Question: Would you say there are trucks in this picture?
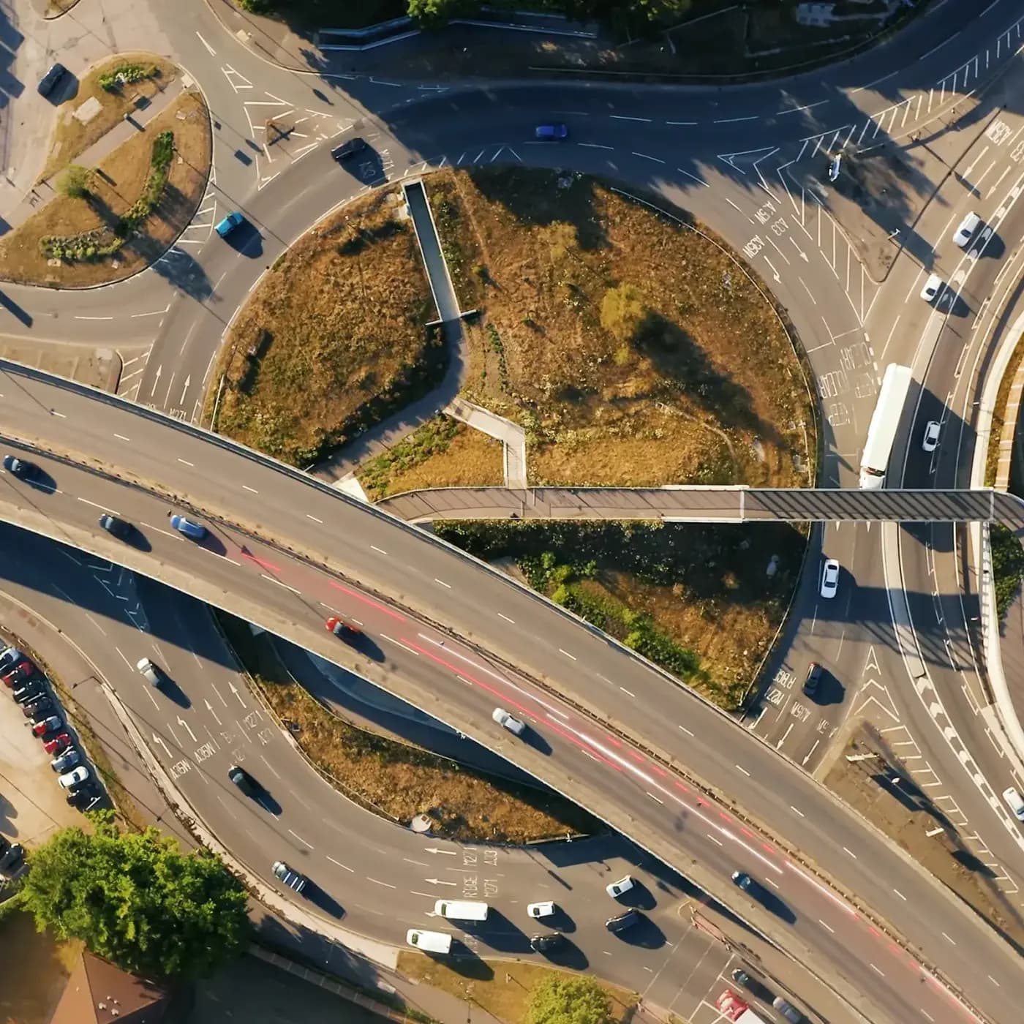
Yes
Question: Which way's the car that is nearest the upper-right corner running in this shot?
at an angle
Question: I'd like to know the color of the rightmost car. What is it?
white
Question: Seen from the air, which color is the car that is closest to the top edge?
black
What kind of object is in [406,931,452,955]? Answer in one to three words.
vehicle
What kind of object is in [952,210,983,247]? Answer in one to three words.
car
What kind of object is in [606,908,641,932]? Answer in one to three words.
car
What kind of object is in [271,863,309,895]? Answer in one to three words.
truck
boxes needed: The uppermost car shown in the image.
[36,63,65,95]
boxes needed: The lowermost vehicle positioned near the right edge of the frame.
[1001,786,1024,822]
